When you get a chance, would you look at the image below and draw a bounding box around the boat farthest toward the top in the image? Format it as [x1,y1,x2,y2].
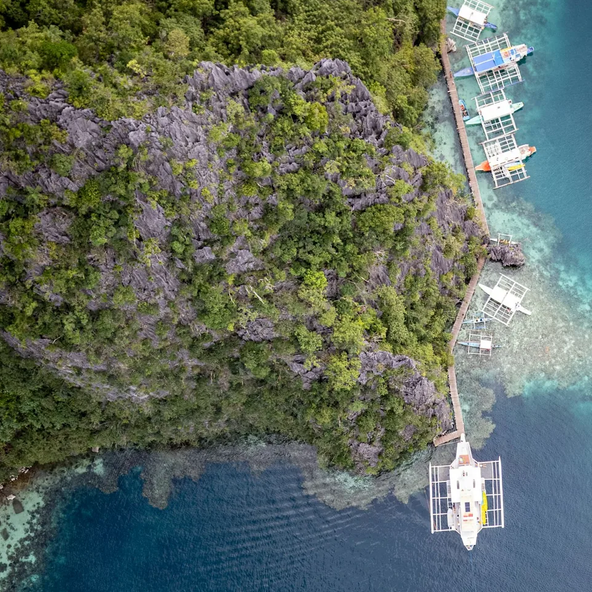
[447,0,497,43]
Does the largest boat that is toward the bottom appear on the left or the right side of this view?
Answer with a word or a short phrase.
right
